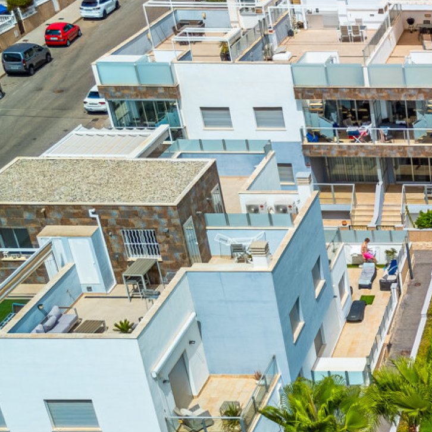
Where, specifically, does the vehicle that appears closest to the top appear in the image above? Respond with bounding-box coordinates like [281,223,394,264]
[79,0,121,18]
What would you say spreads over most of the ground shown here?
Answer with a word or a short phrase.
buildings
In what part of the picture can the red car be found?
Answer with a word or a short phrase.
top left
